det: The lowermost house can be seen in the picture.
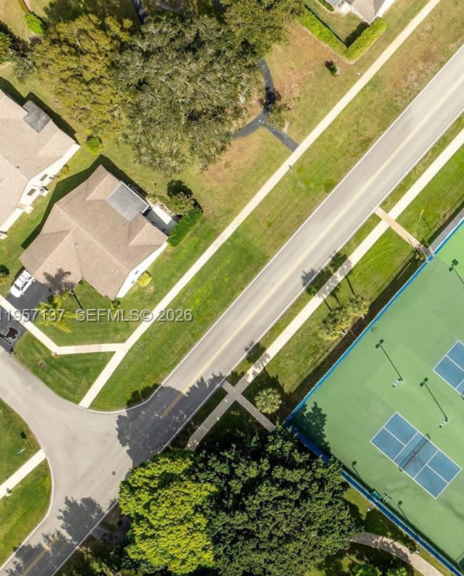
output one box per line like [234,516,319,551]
[19,165,172,301]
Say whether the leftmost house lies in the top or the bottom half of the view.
top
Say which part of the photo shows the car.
left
